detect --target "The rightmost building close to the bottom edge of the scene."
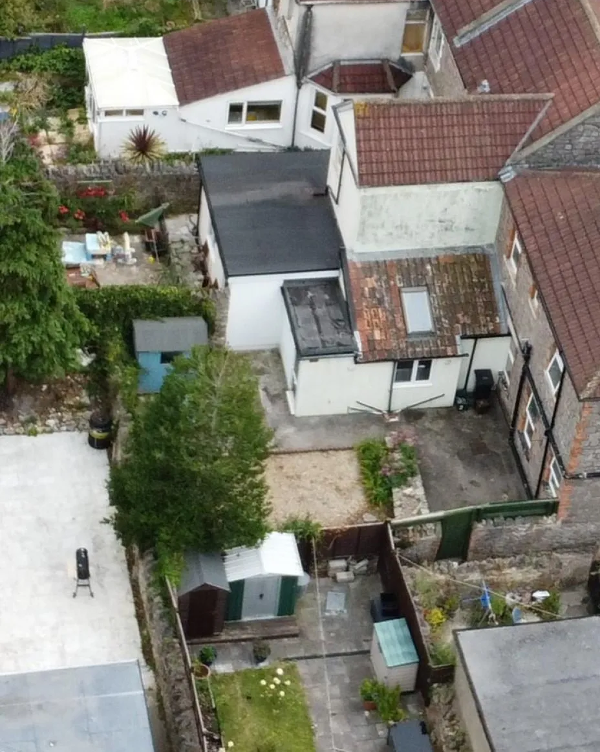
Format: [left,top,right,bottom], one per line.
[452,614,600,752]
